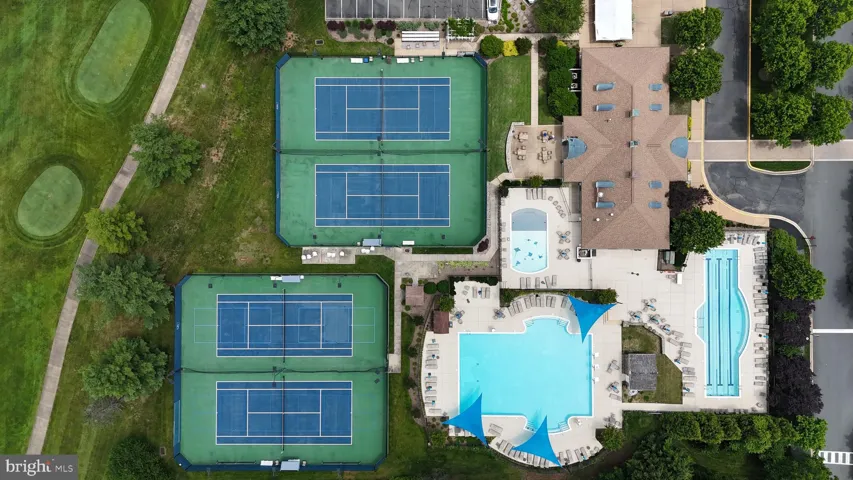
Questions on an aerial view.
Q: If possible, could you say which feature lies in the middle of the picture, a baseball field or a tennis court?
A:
tennis court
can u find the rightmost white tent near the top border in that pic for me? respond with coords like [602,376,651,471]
[591,0,632,45]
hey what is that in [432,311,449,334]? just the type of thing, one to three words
shed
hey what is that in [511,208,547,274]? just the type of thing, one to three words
swimming pool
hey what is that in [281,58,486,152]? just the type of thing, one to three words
tennis court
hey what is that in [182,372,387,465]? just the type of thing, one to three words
tennis court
